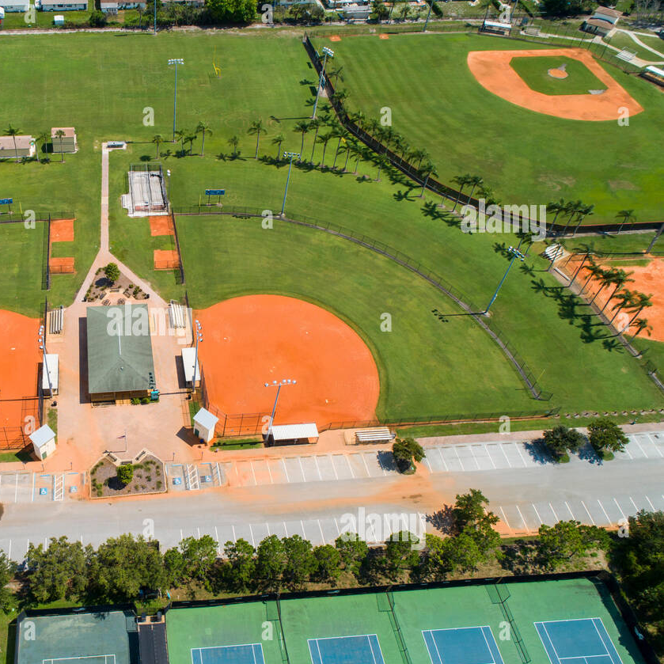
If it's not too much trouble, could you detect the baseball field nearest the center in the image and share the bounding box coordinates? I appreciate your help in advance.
[173,212,546,434]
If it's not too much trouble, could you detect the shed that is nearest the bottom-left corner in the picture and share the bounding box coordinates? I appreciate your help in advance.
[29,424,55,458]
